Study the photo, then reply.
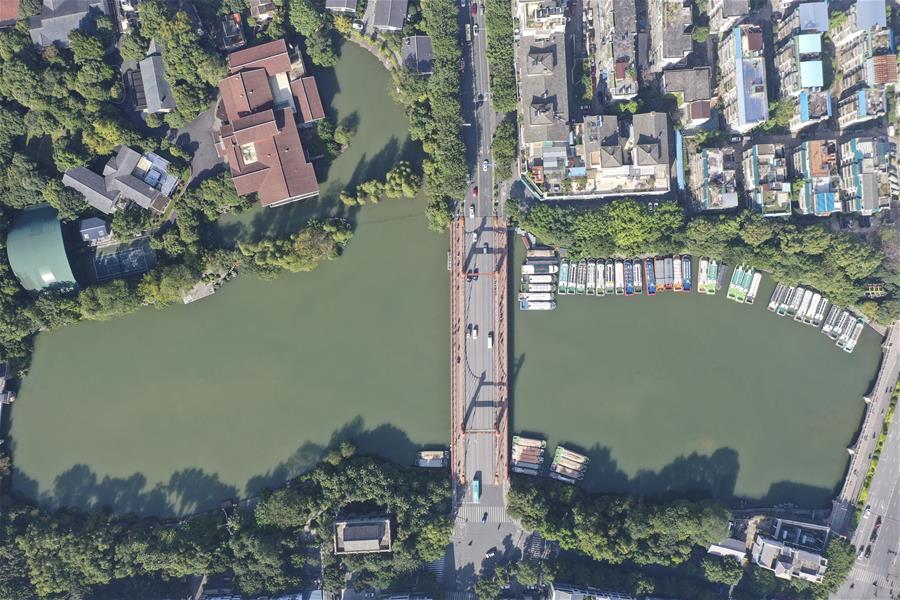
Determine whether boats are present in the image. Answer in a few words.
Yes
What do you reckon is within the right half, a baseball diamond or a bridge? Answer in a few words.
bridge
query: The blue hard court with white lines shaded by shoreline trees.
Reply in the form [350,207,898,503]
[91,241,158,286]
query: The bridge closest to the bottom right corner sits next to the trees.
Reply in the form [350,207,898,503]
[831,312,900,521]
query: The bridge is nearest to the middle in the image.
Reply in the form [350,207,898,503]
[449,211,511,488]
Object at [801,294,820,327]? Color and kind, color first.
white boat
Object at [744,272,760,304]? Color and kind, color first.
white boat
